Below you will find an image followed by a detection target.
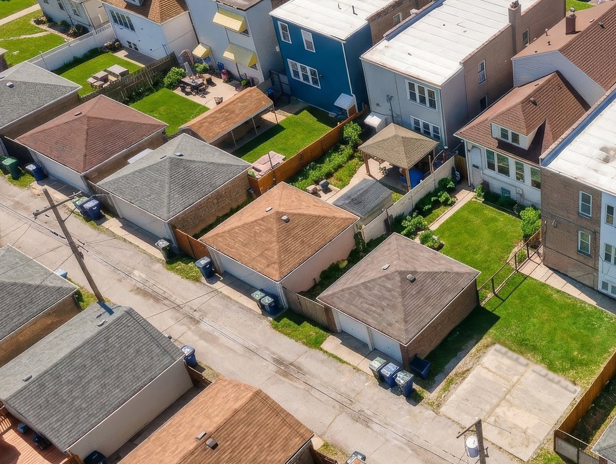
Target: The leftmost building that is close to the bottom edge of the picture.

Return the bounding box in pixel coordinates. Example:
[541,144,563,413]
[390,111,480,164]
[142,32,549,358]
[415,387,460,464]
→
[0,298,191,464]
